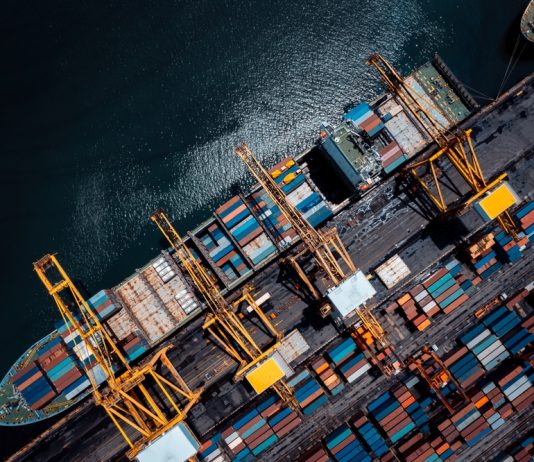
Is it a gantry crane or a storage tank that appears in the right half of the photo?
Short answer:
gantry crane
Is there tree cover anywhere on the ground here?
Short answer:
No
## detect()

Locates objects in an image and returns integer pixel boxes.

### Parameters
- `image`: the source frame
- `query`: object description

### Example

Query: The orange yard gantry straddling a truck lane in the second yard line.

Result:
[405,339,471,415]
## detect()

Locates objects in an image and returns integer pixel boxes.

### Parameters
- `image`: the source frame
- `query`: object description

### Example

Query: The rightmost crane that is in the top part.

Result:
[366,49,523,252]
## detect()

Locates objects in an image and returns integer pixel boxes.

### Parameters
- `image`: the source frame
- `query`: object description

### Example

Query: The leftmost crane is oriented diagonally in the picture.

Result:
[28,254,209,462]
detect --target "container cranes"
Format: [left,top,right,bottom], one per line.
[366,49,523,252]
[405,339,471,415]
[234,140,396,351]
[350,321,403,379]
[28,254,209,462]
[147,210,307,418]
